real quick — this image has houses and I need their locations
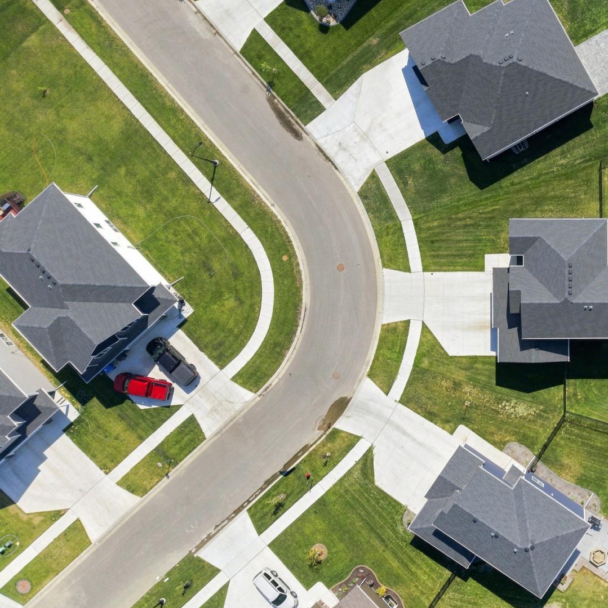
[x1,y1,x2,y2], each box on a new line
[492,218,608,363]
[0,331,68,465]
[398,0,600,166]
[334,582,389,608]
[0,182,184,385]
[406,444,593,600]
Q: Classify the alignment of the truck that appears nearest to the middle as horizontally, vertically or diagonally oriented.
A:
diagonally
